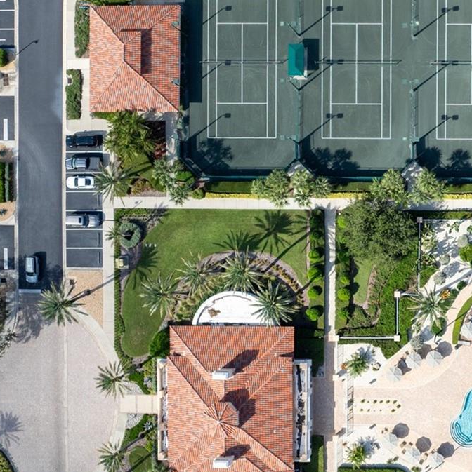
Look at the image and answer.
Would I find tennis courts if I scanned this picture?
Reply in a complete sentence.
Yes, the frame does contain a tennis court.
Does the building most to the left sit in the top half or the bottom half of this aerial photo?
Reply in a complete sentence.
It is in the top half that the building most to the left appears.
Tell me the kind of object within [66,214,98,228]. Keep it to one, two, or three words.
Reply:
car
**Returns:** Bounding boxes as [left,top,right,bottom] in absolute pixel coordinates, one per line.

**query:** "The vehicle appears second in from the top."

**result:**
[64,155,101,170]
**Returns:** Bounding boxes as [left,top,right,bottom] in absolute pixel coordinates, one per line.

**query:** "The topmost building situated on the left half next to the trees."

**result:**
[89,4,181,112]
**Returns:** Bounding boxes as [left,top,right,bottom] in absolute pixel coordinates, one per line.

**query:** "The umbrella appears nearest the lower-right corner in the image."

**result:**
[428,449,446,467]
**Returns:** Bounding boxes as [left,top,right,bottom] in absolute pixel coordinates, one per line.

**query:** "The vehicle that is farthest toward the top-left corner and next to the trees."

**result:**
[64,133,100,147]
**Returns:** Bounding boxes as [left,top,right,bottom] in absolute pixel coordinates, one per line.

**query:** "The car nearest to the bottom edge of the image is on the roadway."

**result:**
[21,255,38,284]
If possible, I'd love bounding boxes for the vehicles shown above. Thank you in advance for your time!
[64,133,100,147]
[66,214,98,228]
[21,255,38,284]
[64,176,93,189]
[64,155,101,170]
